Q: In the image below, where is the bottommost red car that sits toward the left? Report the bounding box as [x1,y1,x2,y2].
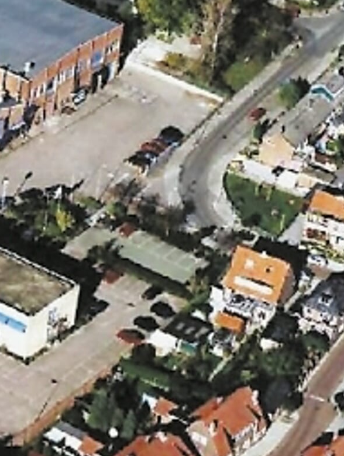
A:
[116,327,145,345]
